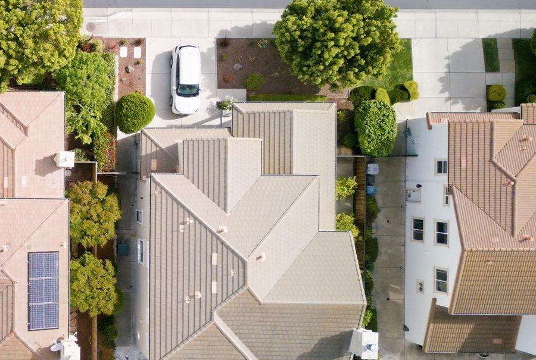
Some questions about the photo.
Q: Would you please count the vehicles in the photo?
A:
1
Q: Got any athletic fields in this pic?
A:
No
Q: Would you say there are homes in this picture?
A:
Yes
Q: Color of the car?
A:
white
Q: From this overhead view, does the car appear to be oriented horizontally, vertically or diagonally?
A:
vertically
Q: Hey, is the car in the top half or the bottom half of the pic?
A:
top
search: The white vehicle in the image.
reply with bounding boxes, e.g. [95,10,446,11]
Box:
[173,43,208,112]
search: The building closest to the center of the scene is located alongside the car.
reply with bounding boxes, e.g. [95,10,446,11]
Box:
[136,100,375,360]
